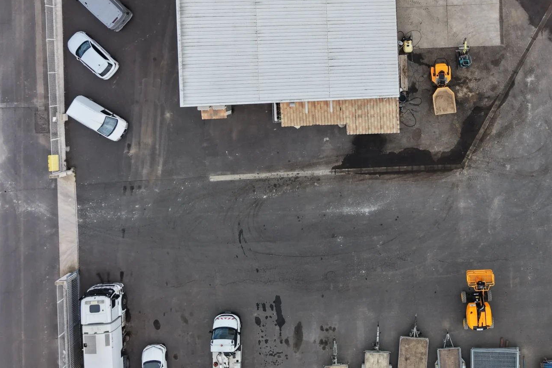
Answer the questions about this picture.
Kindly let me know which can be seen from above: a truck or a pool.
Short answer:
truck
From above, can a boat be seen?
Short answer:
No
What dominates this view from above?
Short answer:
paved ground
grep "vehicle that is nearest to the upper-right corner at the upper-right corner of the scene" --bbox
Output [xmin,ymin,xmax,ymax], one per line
[456,38,471,69]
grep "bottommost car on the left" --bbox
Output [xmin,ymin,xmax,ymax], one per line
[141,342,166,368]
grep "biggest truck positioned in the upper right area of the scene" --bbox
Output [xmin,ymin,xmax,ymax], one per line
[428,61,457,116]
